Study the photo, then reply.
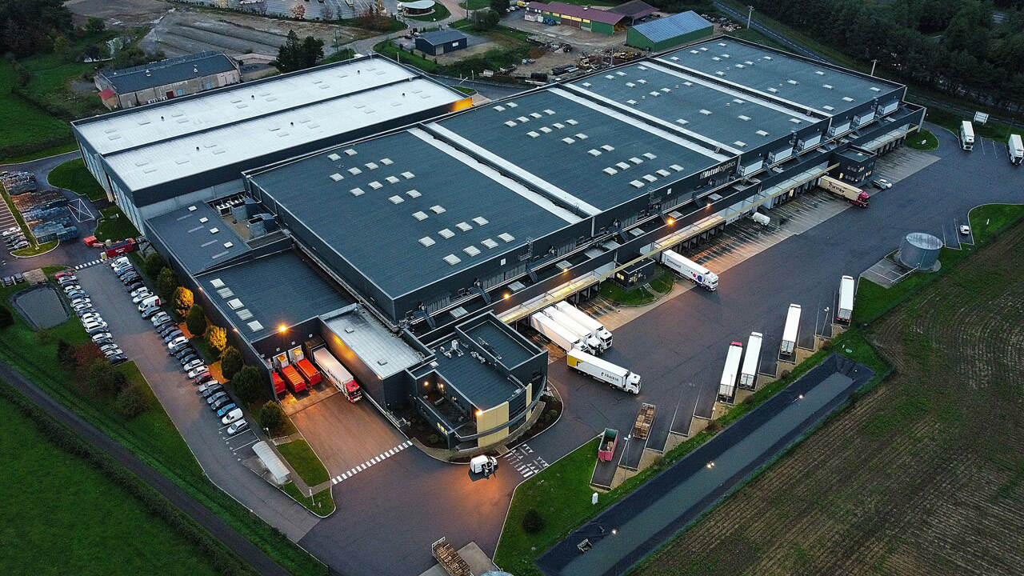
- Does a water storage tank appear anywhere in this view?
Yes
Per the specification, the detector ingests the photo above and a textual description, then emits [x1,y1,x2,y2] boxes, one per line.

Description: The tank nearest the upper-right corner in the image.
[895,231,946,273]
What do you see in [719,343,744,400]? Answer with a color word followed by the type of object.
white truck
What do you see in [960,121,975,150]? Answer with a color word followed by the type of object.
white vehicle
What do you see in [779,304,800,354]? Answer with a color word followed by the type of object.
white truck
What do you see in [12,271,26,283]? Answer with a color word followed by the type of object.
gray vehicle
